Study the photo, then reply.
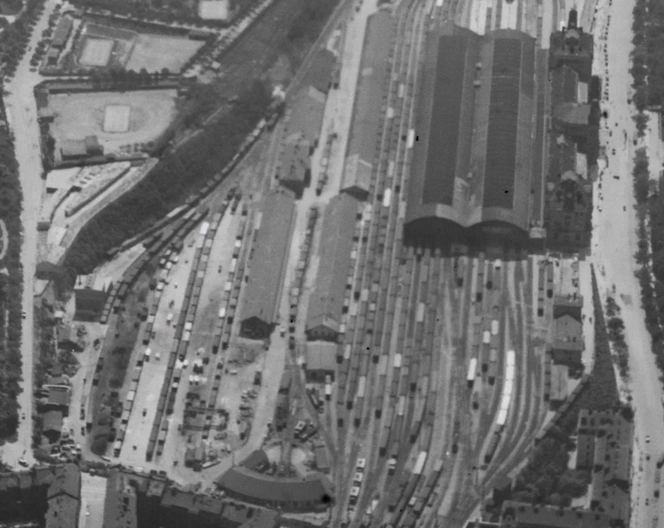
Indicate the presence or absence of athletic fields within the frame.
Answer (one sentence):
Yes, looking at the shot, I can spot an athletic field.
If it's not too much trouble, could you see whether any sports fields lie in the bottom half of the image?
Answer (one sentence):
No, I see no sports field in the bottom half of the image.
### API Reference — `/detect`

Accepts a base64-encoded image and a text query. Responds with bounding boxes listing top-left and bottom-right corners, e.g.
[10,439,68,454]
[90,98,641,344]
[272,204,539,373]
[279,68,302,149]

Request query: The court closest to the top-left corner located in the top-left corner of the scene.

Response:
[79,40,113,67]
